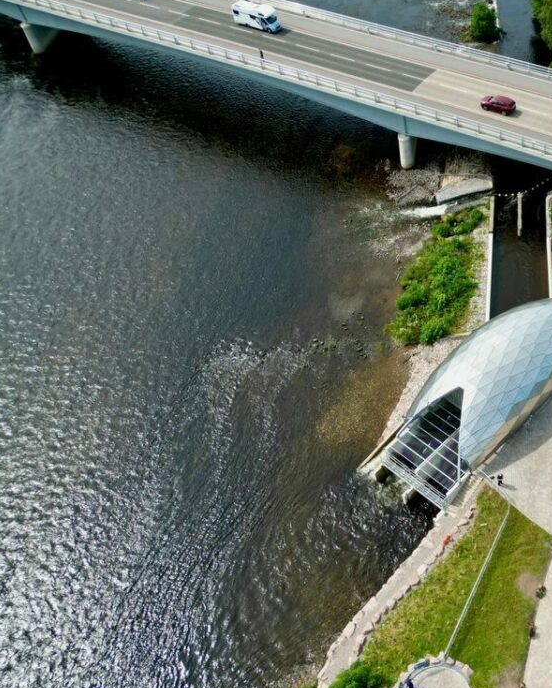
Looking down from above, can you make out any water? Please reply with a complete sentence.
Yes, there's water in this view.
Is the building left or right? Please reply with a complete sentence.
It is on the right.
